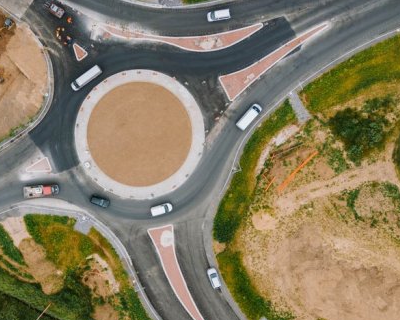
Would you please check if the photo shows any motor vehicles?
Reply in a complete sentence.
Yes, you can see a motor vehicle in this photo.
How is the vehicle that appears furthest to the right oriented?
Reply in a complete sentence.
What the image shows is the vehicle that appears furthest to the right lying diagonally.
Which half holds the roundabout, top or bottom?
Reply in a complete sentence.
The roundabout sits in the top half of the picture.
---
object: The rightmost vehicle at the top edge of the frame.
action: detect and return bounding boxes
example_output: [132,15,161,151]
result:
[205,8,231,23]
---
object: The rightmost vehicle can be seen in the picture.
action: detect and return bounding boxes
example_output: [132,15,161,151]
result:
[235,104,260,130]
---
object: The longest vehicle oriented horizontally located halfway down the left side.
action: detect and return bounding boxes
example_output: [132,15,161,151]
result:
[23,183,59,198]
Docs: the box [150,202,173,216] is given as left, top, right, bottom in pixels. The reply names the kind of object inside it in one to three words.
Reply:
car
